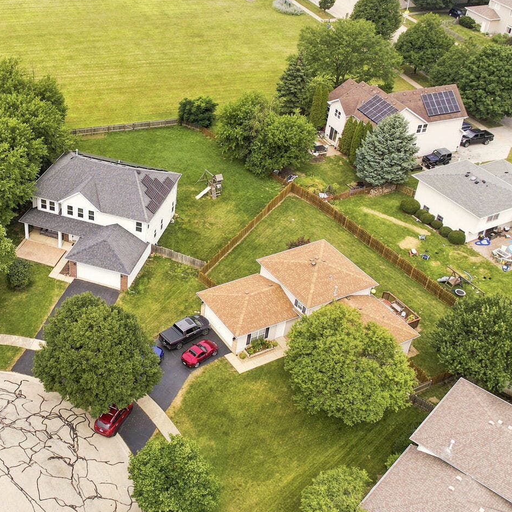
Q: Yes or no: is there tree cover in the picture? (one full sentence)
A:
Yes, there's tree cover in this view.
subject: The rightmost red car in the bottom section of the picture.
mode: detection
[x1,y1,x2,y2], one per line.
[176,343,222,370]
